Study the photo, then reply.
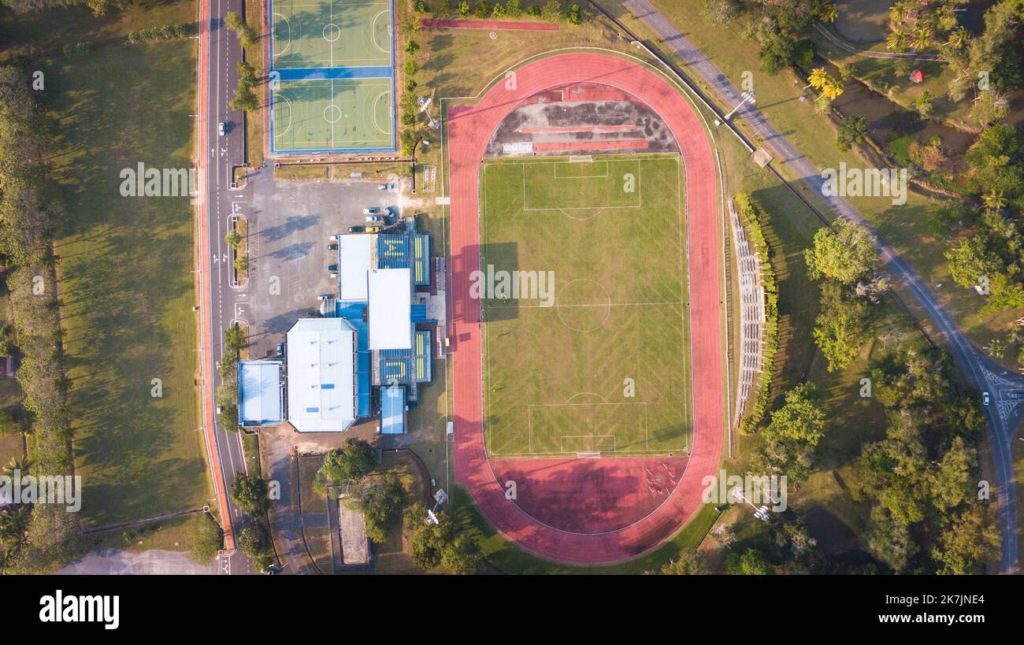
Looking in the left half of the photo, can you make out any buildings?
Yes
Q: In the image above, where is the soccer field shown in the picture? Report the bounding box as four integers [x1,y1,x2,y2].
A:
[479,152,692,458]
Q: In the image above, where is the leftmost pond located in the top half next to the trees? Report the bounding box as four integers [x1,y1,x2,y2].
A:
[832,0,897,45]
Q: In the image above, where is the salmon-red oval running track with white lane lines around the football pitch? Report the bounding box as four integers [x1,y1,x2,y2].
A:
[447,52,722,565]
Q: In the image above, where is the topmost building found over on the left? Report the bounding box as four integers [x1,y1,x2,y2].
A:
[339,234,371,299]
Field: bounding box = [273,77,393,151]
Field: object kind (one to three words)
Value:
sports court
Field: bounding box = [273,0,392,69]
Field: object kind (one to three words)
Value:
sports court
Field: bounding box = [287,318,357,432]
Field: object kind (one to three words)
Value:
building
